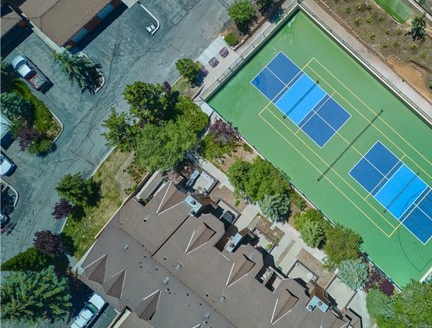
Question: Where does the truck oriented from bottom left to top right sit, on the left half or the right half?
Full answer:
The truck oriented from bottom left to top right is on the left side of the image.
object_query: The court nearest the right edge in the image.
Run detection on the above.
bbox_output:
[348,140,432,245]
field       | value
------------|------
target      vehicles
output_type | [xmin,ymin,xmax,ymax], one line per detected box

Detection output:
[0,213,14,237]
[11,56,46,93]
[64,290,109,328]
[0,153,14,177]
